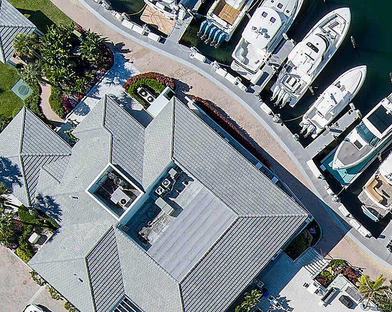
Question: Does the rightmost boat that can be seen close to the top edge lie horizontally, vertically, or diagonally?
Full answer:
In this picture, the rightmost boat that can be seen close to the top edge lies diagonally.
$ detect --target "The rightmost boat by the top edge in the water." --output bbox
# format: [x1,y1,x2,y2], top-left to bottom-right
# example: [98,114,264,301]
[268,6,349,108]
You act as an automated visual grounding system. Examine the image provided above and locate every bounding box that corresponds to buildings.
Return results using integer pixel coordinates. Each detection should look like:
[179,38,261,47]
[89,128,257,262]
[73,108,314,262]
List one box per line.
[0,93,319,312]
[0,0,47,66]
